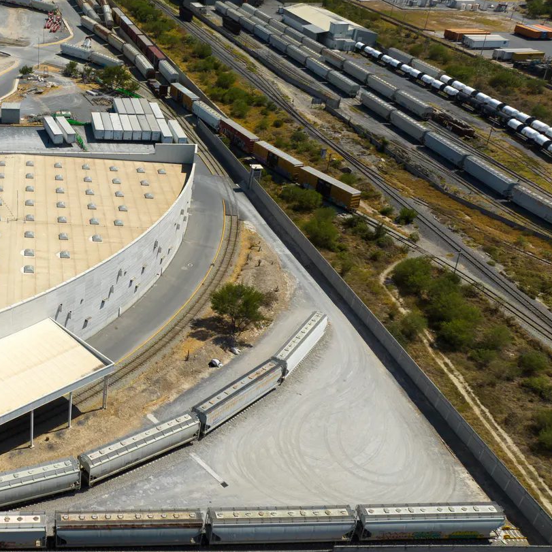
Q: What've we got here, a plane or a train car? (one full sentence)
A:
I can see a train car in this picture.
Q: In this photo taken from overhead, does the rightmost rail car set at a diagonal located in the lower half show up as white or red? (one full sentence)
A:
From above, the rightmost rail car set at a diagonal located in the lower half appears white.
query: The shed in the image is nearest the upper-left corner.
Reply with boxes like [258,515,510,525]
[1,102,20,123]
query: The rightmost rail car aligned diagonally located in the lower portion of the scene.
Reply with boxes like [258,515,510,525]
[274,310,333,381]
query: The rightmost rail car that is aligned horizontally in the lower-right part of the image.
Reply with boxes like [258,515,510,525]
[353,500,509,542]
